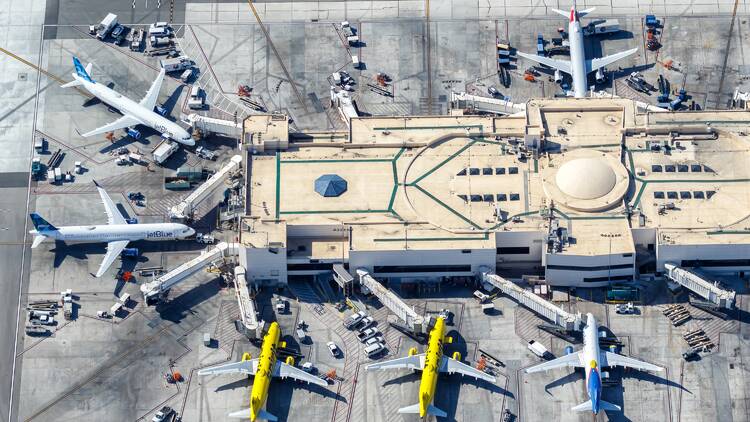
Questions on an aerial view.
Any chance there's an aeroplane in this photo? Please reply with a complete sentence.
Yes, an aeroplane appears in the view.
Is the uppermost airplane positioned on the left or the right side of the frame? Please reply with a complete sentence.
You can find the uppermost airplane on the right side of the picture.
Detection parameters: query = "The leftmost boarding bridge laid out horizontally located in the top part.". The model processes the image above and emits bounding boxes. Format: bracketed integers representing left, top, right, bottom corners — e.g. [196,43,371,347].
[177,116,242,147]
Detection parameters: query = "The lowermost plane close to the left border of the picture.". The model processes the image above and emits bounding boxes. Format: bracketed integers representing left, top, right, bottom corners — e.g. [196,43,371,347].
[29,179,196,277]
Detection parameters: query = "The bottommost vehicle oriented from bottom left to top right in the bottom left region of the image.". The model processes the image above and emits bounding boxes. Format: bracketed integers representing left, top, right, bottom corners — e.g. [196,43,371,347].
[152,404,172,421]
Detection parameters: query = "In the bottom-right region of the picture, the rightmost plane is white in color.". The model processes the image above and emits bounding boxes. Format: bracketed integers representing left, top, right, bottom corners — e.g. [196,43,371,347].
[525,313,664,415]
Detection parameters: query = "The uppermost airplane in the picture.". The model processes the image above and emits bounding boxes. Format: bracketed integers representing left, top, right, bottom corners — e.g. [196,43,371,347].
[517,0,638,98]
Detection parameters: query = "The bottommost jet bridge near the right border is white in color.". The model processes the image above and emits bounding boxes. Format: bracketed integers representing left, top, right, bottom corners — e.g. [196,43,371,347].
[661,261,744,317]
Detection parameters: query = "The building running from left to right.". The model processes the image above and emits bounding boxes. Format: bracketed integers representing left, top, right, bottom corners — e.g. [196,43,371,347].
[240,97,750,289]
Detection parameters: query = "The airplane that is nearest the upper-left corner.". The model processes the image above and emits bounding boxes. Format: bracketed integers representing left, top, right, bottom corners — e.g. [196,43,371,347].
[62,58,196,147]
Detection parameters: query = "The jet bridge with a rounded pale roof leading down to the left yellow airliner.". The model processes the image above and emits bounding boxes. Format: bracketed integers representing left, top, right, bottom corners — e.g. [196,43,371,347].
[233,262,266,342]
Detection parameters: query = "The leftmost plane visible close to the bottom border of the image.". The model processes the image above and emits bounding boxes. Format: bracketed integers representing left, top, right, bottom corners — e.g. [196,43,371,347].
[198,323,329,422]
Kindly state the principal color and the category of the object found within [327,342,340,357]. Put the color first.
white vehicle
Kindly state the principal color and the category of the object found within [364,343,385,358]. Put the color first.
white vehicle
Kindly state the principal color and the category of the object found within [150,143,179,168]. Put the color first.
white truck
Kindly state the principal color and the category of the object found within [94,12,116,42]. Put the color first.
white truck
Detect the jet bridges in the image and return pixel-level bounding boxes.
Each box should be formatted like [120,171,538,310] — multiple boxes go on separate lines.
[163,157,243,225]
[233,262,266,342]
[352,265,434,338]
[584,88,666,111]
[478,267,584,338]
[133,244,241,308]
[446,94,527,115]
[661,261,744,317]
[177,116,242,147]
[325,87,362,129]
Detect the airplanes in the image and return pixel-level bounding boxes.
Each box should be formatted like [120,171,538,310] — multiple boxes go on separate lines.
[517,0,638,98]
[62,58,196,147]
[365,319,496,420]
[198,323,329,422]
[29,179,196,277]
[525,313,664,415]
